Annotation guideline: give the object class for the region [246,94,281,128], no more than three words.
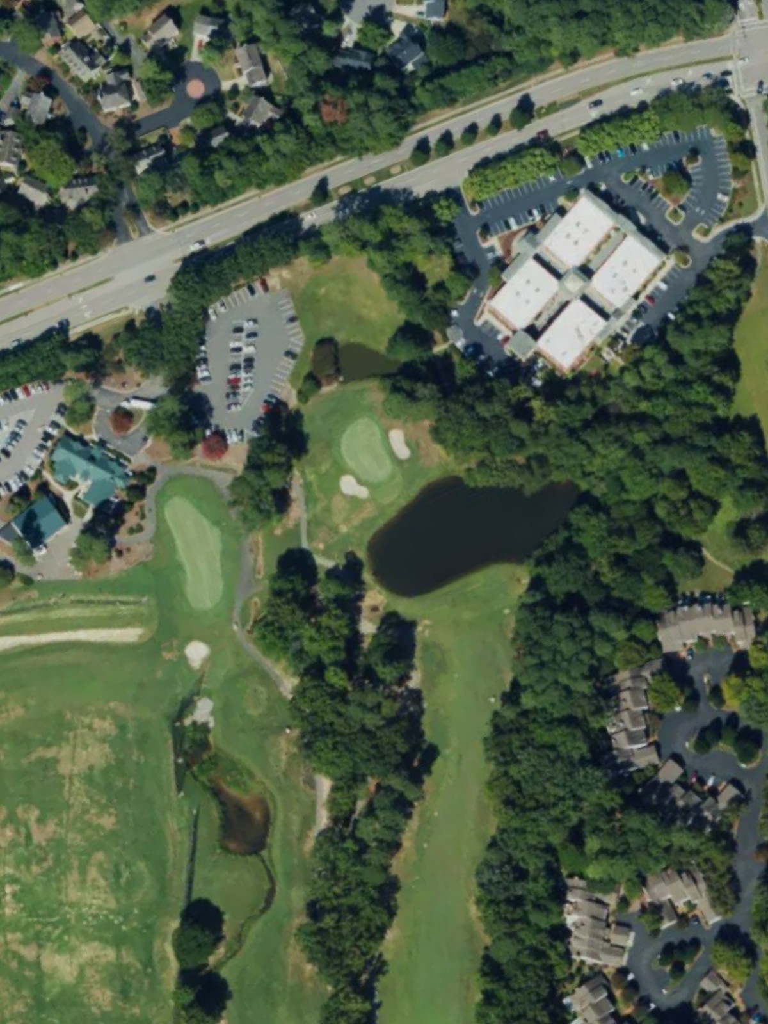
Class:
house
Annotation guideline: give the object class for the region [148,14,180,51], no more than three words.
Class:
house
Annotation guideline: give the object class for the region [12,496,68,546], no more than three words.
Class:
building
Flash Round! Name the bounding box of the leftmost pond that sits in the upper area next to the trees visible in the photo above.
[335,342,413,383]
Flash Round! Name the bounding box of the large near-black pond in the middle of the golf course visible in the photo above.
[367,475,578,597]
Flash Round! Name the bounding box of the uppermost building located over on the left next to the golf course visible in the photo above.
[50,434,132,506]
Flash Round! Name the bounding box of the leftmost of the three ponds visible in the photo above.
[195,765,270,855]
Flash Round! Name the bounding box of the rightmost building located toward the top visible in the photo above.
[490,191,667,371]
